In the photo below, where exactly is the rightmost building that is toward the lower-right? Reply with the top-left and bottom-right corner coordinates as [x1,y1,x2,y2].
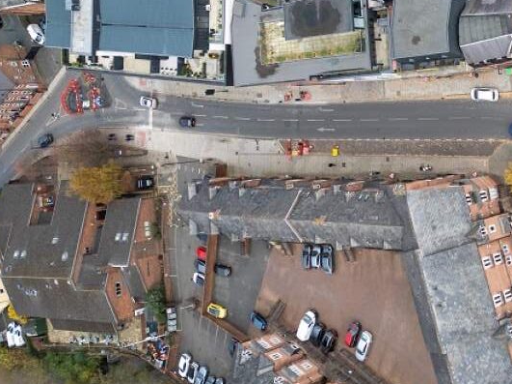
[397,176,512,384]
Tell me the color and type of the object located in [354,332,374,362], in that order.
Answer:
white car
